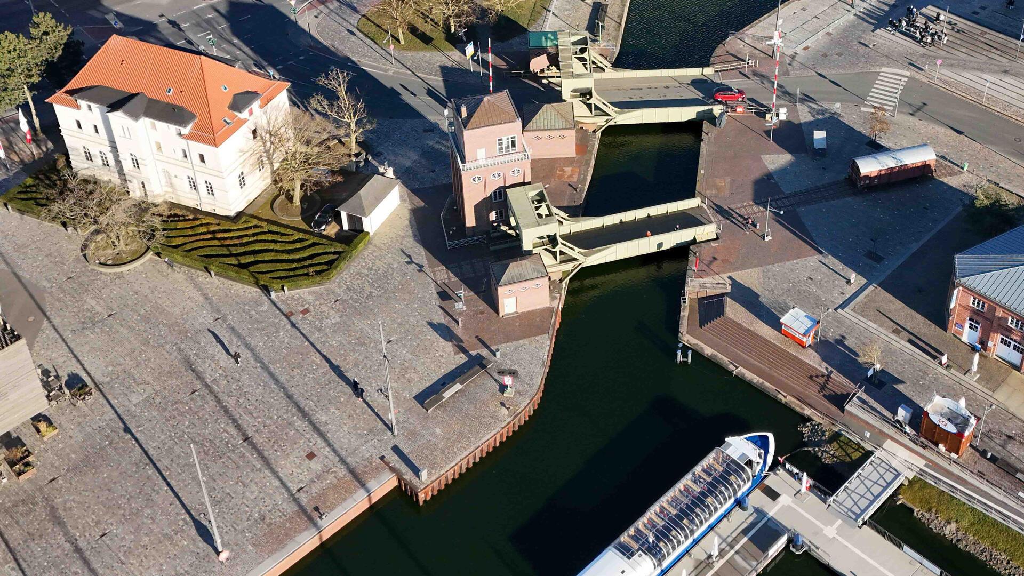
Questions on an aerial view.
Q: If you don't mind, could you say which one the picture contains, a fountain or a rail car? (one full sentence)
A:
It is a rail car that can be seen here.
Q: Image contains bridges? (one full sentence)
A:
Yes, there's a bridge here.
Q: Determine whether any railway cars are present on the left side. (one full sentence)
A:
No, no railway car appears on the left side.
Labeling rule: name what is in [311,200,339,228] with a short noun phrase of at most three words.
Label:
car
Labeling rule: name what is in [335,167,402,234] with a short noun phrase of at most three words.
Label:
building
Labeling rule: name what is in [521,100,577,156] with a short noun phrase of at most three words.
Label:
building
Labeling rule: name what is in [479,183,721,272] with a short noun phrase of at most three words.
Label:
bridge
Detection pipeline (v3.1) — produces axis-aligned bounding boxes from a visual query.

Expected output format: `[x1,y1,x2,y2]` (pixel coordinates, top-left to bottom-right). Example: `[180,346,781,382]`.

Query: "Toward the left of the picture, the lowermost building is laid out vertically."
[0,309,50,433]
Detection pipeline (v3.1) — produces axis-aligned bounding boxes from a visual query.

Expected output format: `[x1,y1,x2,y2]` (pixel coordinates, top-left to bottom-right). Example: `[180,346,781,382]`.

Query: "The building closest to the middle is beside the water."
[487,252,550,319]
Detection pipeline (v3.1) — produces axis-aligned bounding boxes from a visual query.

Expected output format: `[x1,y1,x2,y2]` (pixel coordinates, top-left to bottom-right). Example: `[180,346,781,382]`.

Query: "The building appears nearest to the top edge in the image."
[528,18,578,69]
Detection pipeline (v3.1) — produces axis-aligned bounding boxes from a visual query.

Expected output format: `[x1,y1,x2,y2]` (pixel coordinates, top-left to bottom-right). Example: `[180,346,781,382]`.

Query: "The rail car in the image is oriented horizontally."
[847,140,941,183]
